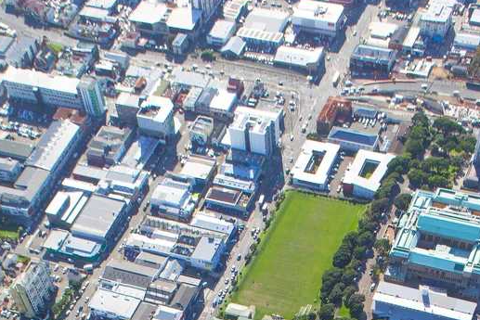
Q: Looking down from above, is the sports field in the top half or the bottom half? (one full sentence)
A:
The bottom half of the photo is where the sports field is.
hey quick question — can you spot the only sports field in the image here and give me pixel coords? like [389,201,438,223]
[234,188,370,320]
